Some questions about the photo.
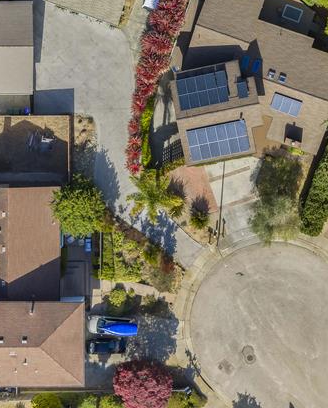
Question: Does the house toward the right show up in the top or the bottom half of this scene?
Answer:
top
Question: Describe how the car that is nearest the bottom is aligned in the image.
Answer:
from side to side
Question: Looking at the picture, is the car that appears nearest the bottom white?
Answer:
No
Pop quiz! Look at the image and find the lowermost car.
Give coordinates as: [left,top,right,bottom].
[87,338,129,360]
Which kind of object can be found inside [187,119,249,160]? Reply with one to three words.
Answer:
solar array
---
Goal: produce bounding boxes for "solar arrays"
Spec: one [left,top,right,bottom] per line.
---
[238,81,249,98]
[271,93,302,117]
[187,119,249,160]
[176,71,229,110]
